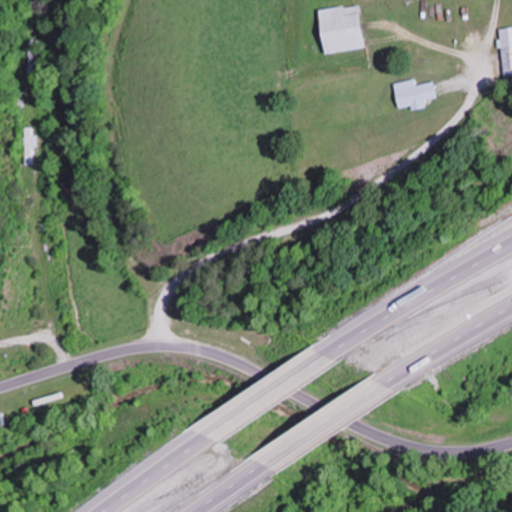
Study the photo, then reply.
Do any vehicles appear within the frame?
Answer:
Yes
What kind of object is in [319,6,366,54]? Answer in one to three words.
barn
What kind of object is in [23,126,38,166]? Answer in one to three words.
house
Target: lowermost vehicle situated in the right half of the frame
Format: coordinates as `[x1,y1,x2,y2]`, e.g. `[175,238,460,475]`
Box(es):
[409,357,431,372]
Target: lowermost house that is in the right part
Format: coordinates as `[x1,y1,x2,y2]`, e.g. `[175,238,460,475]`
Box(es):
[394,79,436,110]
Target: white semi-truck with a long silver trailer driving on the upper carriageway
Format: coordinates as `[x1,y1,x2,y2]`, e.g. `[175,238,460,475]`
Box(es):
[391,285,429,310]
